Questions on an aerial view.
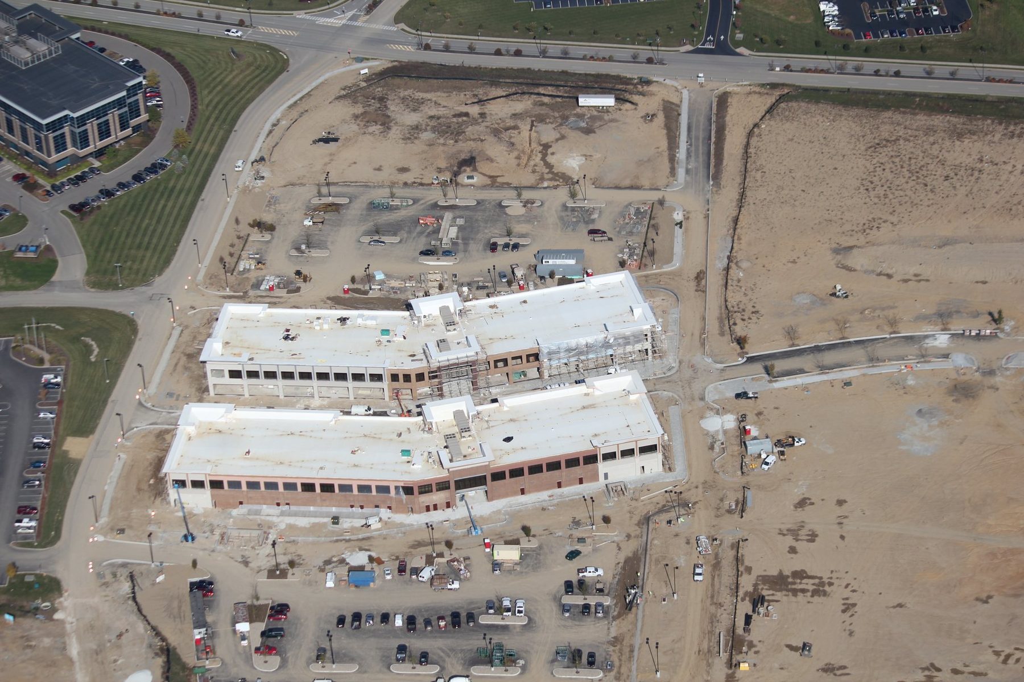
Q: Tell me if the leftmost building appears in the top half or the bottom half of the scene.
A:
top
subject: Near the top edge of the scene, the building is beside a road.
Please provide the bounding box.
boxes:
[0,0,147,167]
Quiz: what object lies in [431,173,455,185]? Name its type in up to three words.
vehicle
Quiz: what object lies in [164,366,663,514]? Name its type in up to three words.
building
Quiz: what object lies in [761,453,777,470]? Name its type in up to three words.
car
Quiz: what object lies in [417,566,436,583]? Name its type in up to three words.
vehicle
